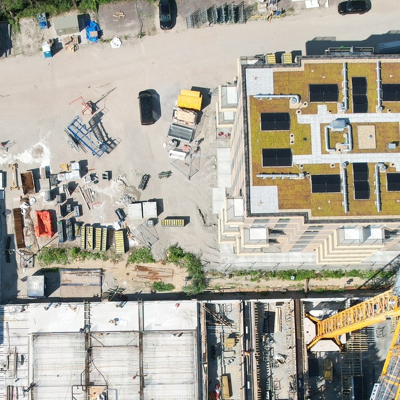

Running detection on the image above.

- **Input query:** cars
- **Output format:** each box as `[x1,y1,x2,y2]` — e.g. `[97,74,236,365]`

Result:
[157,0,172,29]
[138,92,153,123]
[338,0,367,15]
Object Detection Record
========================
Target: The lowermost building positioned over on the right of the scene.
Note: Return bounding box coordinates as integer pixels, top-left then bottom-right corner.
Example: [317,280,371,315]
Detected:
[216,49,400,264]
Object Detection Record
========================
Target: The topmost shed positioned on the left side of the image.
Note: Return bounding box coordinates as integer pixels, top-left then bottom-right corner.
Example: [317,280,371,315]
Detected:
[55,15,81,36]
